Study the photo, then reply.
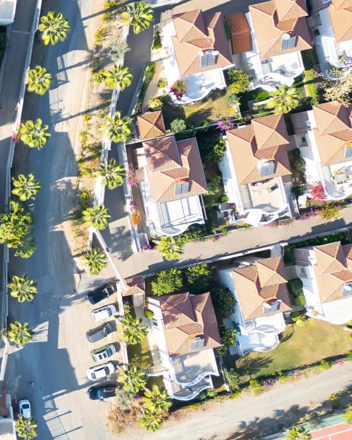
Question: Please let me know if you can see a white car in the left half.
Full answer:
Yes, the scene does show a white car in the left half.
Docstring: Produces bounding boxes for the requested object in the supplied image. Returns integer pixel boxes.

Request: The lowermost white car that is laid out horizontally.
[83,362,115,380]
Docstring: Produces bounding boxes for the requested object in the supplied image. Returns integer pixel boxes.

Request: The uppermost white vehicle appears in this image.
[87,303,117,322]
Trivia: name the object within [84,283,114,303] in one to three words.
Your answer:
car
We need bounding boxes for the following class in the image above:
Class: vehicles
[88,342,118,361]
[83,362,115,380]
[84,283,114,303]
[86,383,117,398]
[83,322,114,343]
[17,396,31,424]
[87,303,117,322]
